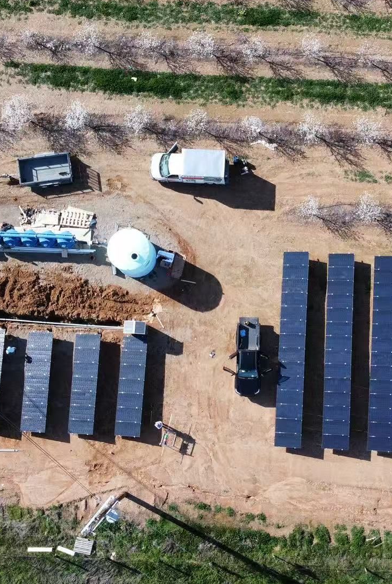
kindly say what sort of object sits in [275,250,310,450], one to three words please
solar array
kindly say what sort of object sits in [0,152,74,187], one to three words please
trailer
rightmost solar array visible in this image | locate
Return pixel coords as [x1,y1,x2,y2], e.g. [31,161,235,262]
[367,254,392,451]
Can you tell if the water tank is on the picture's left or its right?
left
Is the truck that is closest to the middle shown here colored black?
Yes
